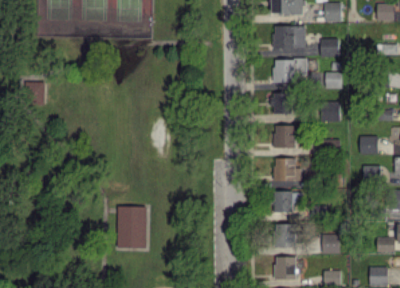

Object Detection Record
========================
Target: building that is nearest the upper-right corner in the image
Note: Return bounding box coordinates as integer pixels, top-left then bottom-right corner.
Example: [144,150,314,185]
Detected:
[378,3,396,22]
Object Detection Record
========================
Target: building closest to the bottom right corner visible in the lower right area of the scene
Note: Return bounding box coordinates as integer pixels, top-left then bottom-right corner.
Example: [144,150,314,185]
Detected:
[370,267,388,287]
